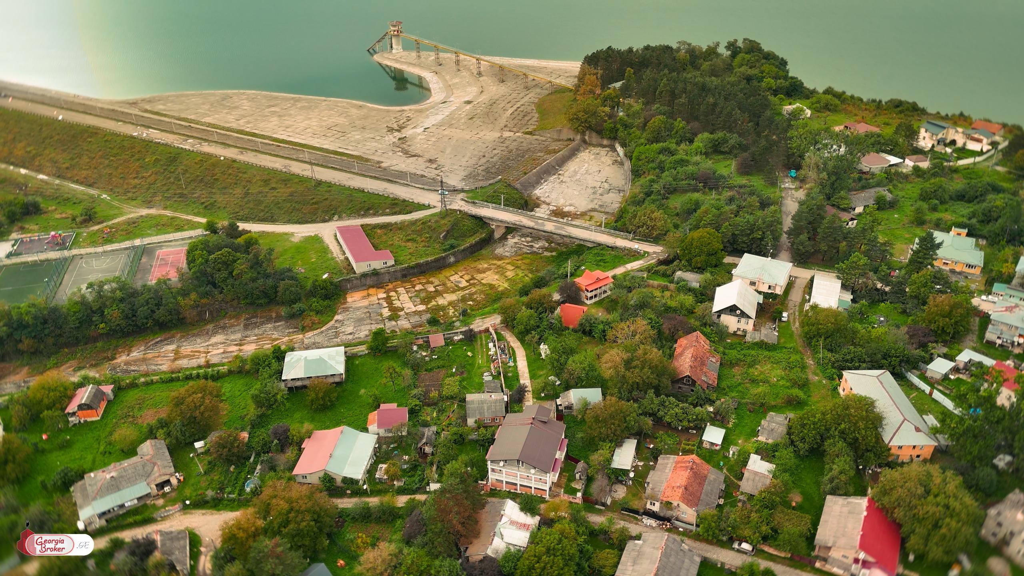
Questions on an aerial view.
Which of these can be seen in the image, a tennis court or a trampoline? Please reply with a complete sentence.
This aerial view contains a tennis court.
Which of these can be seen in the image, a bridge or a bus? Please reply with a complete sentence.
Of the two, only a bridge appears.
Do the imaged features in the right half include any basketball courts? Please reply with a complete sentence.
No, looking in the right half, there is no basketball court.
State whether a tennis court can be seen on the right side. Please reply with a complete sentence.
No, looking on the right side, there is no tennis court.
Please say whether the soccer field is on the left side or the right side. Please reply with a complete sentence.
It is on the left.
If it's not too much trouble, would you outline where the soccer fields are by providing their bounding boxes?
[0,254,67,307]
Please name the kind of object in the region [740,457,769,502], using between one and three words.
shed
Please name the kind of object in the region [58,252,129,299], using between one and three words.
basketball court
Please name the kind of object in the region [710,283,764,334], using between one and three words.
house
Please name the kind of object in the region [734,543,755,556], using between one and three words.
vehicle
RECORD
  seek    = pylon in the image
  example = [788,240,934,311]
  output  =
[436,169,449,213]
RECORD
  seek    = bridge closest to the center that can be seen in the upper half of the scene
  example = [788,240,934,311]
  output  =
[459,200,656,253]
